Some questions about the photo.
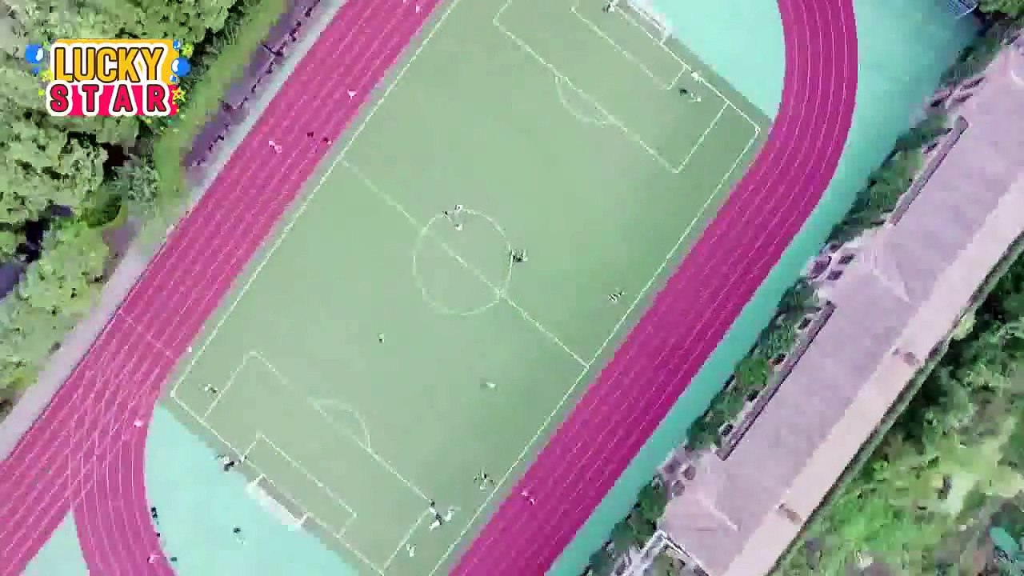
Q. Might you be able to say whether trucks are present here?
No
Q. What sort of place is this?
sports ground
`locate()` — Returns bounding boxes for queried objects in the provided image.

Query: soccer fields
[158,0,773,576]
